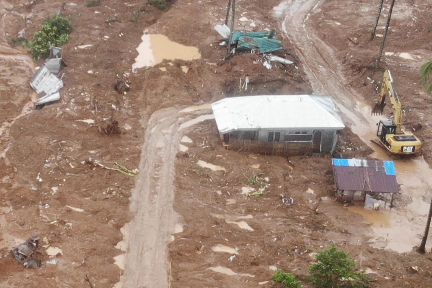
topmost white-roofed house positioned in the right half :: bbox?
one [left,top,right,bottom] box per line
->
[211,94,345,155]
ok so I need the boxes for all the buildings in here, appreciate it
[211,94,345,155]
[30,47,67,106]
[331,159,398,209]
